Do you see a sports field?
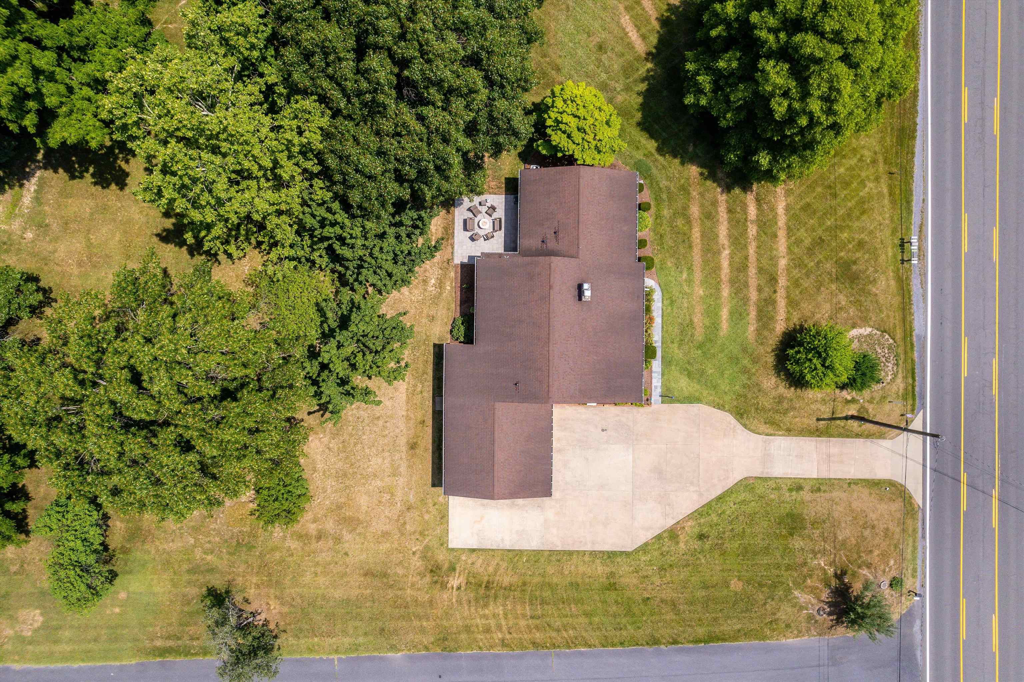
No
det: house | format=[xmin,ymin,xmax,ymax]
[442,164,649,500]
